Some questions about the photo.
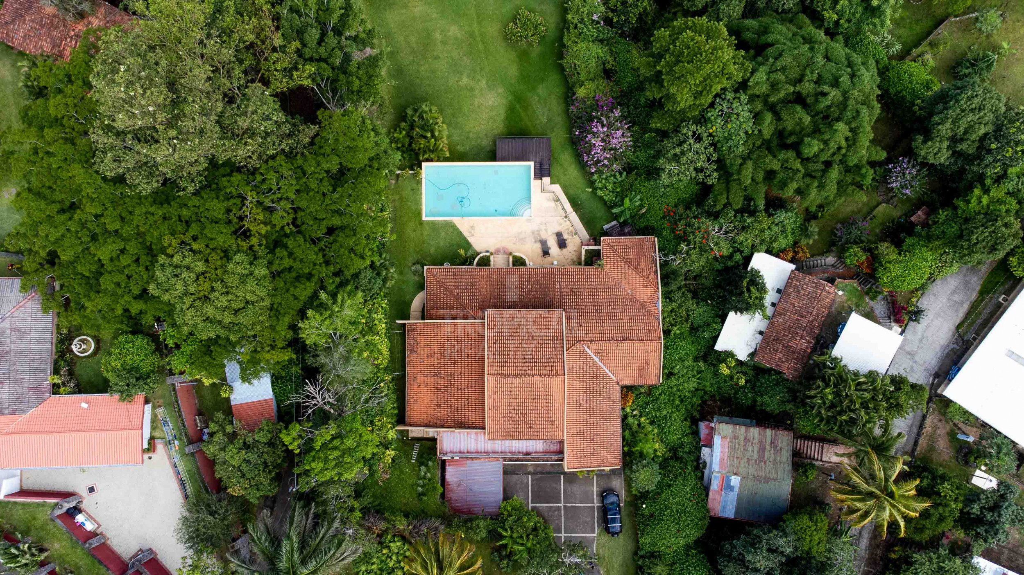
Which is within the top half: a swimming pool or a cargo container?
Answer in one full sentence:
Visible within the top half is a swimming pool.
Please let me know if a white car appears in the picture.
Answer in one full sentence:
No, there is no white car in the image.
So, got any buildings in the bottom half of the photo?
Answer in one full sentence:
Yes, a building can be seen in the bottom half of the photo.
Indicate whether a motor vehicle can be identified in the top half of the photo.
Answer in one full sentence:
No, I can find no motor vehicle in the top half of the photo.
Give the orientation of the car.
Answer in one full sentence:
The car is oriented from top to bottom.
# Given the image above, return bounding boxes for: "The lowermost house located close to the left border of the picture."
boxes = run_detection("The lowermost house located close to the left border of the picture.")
[0,392,149,470]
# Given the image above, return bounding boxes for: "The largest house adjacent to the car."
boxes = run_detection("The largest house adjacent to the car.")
[395,237,664,474]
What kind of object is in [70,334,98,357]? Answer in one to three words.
fountain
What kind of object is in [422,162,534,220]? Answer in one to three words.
swimming pool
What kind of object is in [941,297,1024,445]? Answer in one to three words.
building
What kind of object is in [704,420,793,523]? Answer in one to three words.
shed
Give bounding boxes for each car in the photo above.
[599,488,623,537]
